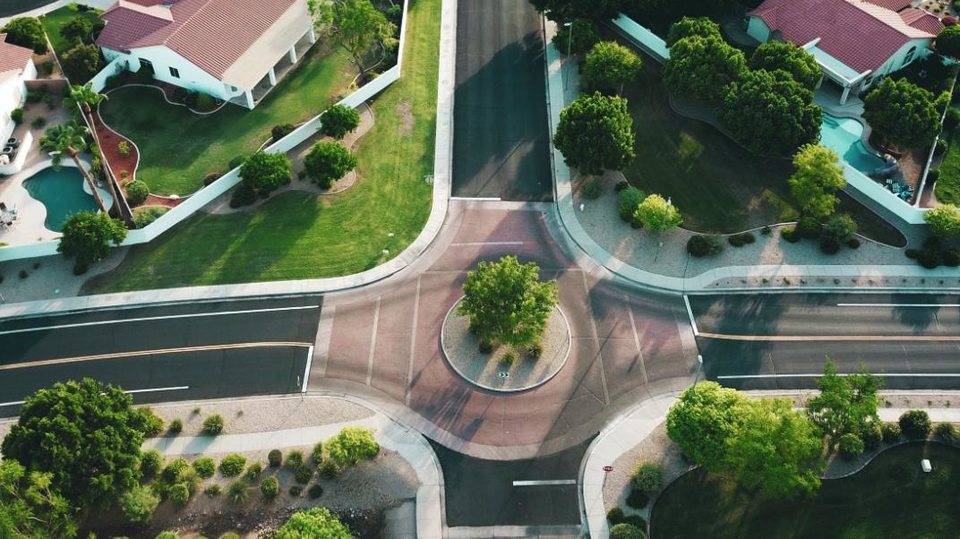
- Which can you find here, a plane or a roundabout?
roundabout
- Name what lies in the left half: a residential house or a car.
residential house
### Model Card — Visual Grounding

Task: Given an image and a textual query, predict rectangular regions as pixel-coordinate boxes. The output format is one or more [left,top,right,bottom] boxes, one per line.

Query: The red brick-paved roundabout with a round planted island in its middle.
[307,200,703,459]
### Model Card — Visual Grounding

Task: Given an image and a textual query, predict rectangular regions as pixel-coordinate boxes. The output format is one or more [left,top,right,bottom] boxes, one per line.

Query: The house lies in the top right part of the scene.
[736,0,927,102]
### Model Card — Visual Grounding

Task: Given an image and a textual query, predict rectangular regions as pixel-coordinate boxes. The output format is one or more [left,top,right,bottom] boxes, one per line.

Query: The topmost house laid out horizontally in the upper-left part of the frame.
[95,0,322,109]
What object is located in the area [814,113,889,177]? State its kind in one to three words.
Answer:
swimming pool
